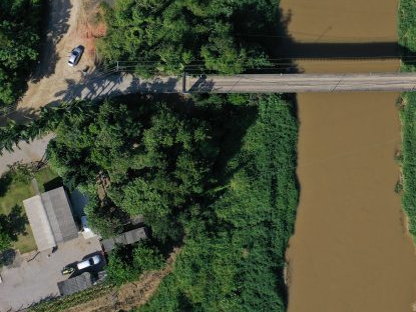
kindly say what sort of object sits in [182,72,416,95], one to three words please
bridge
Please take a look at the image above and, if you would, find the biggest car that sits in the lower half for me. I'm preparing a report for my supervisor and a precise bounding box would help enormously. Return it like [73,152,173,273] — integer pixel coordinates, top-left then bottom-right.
[74,256,99,272]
